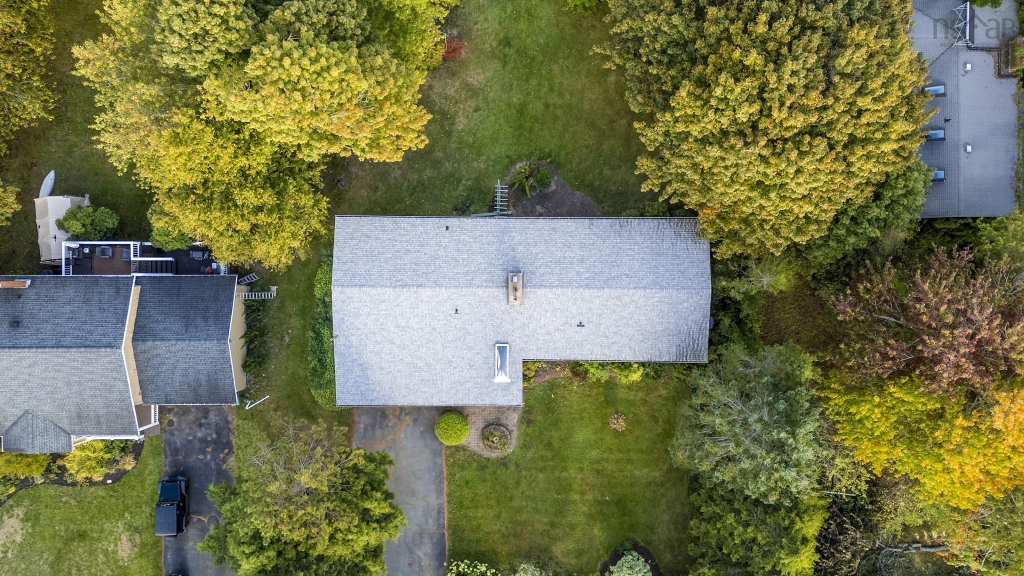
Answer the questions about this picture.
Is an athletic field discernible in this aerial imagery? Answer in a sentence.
No, the photo shows no athletic field.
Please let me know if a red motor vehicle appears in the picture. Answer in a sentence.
No, the scene contains no red motor vehicle.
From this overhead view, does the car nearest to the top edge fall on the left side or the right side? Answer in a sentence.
You can find the car nearest to the top edge on the left side of the picture.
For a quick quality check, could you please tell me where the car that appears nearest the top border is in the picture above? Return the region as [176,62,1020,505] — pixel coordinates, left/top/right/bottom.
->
[154,477,192,543]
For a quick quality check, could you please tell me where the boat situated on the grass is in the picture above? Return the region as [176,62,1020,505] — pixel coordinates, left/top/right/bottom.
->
[42,170,59,198]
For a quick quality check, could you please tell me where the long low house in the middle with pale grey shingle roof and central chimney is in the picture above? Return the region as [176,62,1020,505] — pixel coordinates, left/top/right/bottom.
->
[331,215,712,407]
